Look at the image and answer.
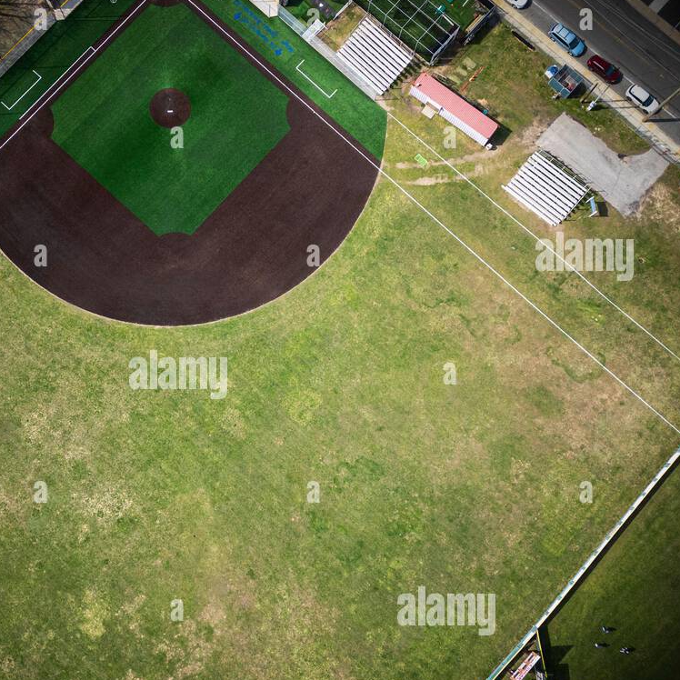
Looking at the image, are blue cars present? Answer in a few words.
Yes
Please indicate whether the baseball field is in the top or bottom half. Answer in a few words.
top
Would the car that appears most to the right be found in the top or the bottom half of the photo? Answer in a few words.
top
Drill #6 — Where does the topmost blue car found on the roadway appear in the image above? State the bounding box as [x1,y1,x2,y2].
[548,24,584,57]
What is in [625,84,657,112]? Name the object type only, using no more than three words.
car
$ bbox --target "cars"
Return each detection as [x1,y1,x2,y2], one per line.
[625,84,657,112]
[584,53,621,85]
[548,24,584,57]
[507,0,528,9]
